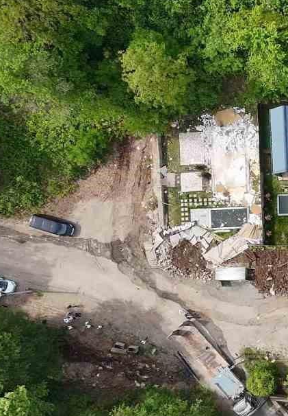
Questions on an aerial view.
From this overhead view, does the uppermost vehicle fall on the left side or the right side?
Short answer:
left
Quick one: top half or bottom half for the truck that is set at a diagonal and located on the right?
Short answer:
bottom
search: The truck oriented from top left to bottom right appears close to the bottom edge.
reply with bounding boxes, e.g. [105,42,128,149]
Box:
[167,322,260,416]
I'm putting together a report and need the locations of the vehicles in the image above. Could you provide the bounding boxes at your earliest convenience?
[0,277,17,294]
[27,212,76,237]
[167,322,260,416]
